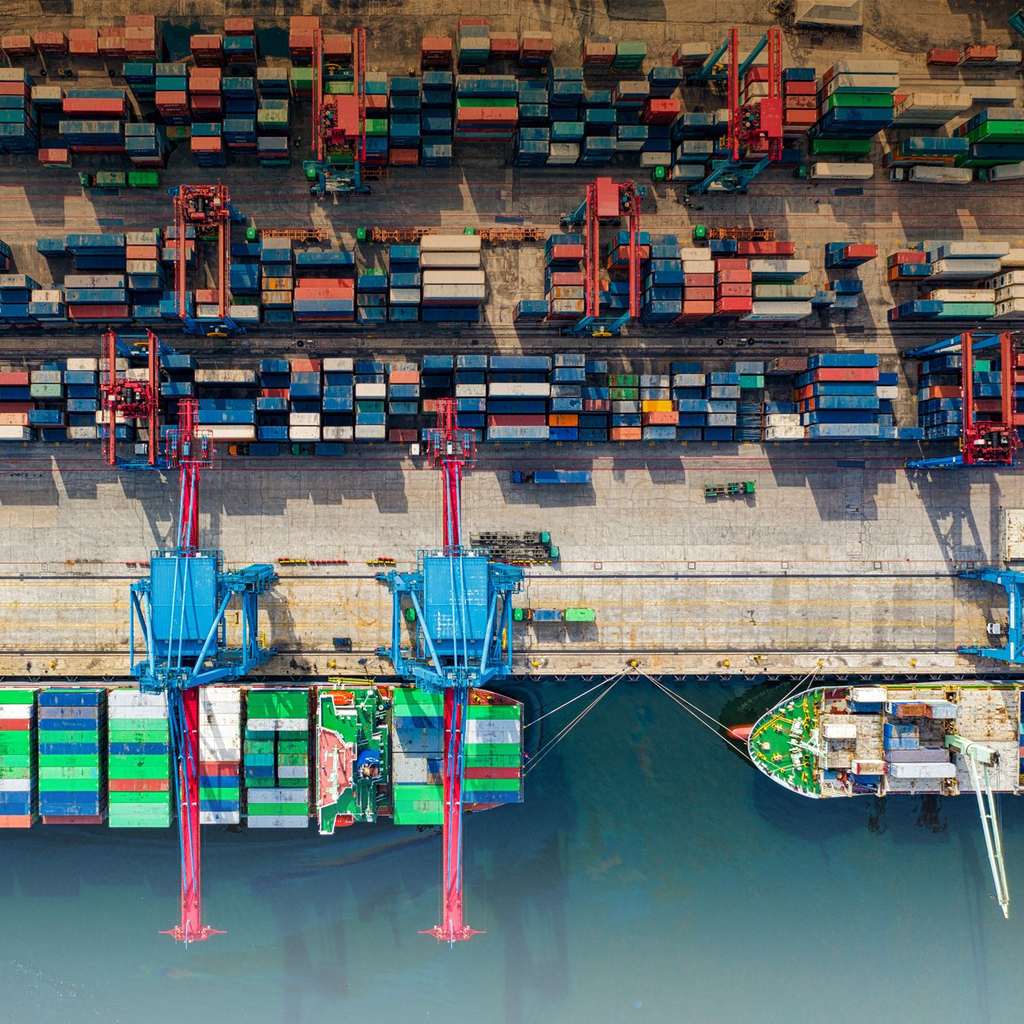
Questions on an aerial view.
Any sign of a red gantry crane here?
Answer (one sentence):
Yes, there is a red gantry crane in the image.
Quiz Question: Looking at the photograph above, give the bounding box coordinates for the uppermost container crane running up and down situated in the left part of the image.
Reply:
[305,20,372,194]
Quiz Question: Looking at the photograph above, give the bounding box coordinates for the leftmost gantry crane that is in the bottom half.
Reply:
[127,398,279,960]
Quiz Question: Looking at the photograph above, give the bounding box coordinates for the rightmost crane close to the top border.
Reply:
[687,20,783,194]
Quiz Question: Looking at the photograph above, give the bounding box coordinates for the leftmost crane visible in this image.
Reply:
[99,325,181,472]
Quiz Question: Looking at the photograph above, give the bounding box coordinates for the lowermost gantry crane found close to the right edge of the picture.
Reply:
[959,573,1024,667]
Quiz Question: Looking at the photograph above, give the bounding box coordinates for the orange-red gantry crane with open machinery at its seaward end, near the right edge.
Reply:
[905,325,1020,472]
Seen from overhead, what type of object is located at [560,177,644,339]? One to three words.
container crane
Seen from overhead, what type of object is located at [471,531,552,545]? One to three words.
vehicle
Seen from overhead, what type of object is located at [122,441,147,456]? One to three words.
vehicle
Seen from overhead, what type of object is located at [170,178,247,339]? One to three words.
container crane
